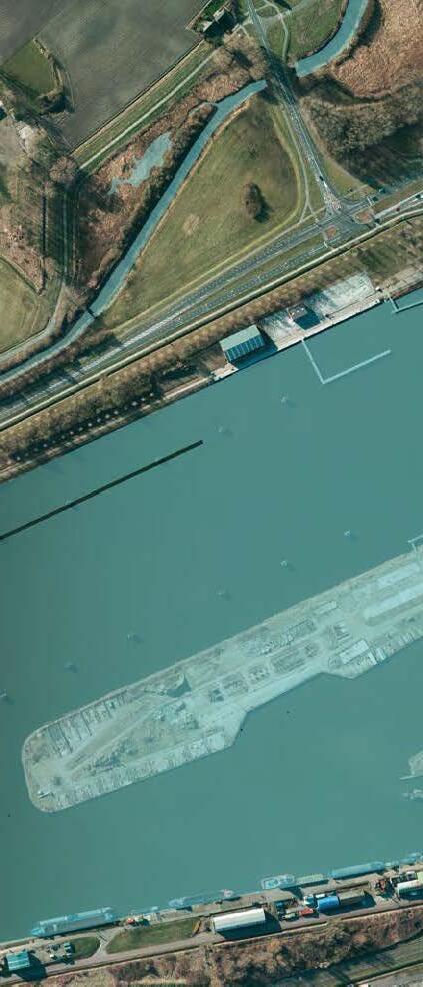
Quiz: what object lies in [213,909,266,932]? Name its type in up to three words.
building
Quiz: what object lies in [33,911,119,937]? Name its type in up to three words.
ship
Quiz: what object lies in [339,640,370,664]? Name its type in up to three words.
shed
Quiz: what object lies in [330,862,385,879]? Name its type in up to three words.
ship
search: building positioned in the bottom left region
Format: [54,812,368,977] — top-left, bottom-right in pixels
[5,951,30,972]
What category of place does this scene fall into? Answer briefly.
port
